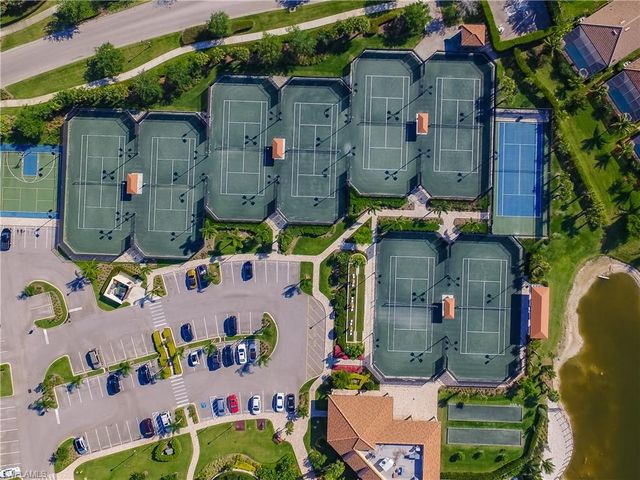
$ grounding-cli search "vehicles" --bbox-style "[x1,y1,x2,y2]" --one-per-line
[1,228,12,251]
[238,343,248,363]
[161,409,172,431]
[141,364,152,385]
[191,349,201,368]
[76,436,88,455]
[183,322,194,342]
[244,261,253,281]
[227,316,237,337]
[224,346,234,367]
[276,392,284,412]
[143,418,155,438]
[498,26,505,35]
[252,395,261,414]
[217,397,226,415]
[188,269,198,289]
[211,351,222,372]
[286,394,295,412]
[198,265,211,289]
[110,373,122,394]
[248,344,258,364]
[229,394,239,414]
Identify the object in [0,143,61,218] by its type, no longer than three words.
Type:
basketball court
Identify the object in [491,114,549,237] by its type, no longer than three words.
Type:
tennis court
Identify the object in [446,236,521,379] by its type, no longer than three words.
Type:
tennis court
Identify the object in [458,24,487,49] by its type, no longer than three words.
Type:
building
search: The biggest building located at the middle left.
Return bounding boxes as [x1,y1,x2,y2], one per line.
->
[104,274,136,303]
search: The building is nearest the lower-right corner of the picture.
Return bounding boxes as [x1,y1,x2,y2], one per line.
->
[526,282,551,340]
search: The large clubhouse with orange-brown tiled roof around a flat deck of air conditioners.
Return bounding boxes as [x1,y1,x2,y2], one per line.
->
[328,391,441,480]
